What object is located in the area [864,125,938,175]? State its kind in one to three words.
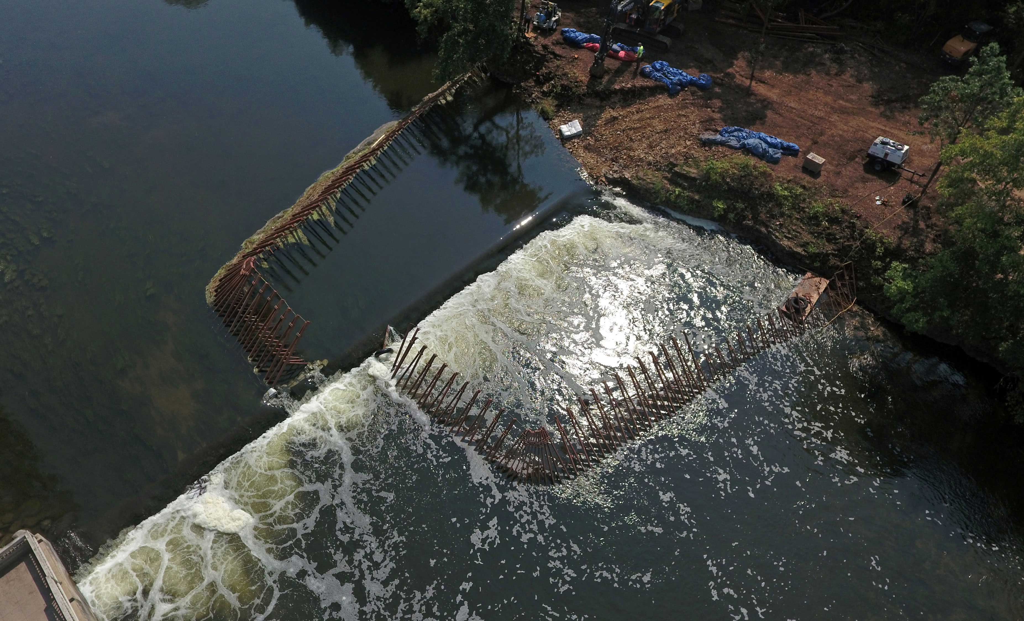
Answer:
trailer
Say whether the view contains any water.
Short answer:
Yes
